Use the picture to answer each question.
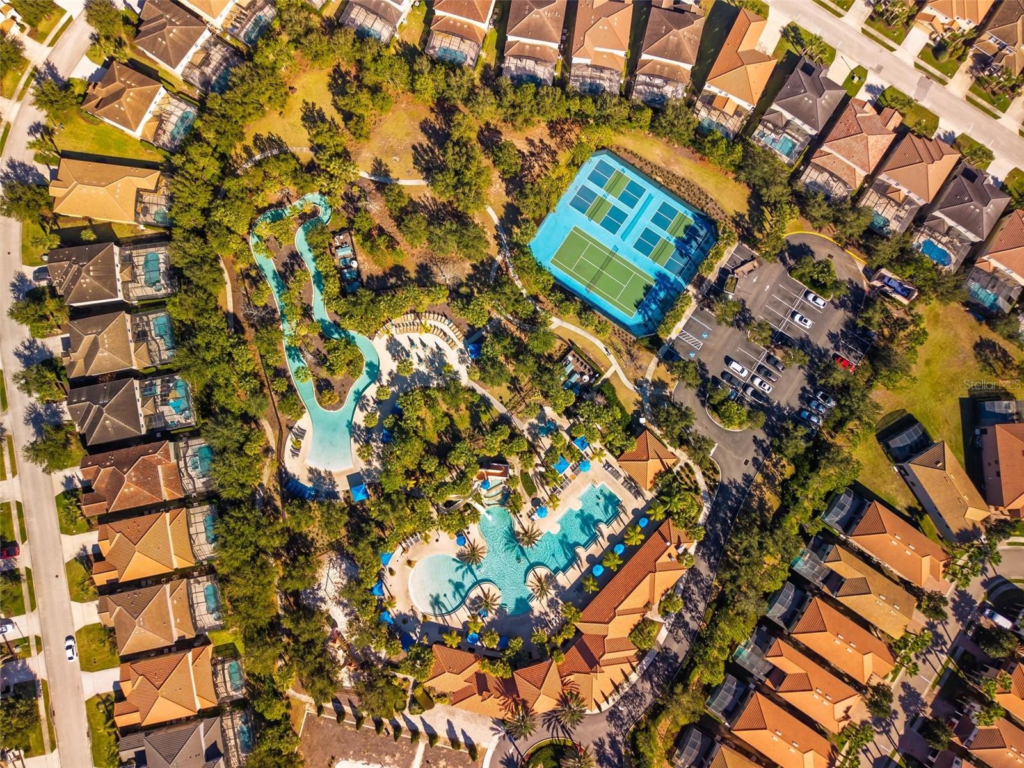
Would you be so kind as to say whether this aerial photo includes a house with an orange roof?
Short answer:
Yes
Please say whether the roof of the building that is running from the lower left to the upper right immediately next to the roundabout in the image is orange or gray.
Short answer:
orange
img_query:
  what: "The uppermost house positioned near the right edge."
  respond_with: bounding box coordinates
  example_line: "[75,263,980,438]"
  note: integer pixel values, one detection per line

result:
[911,0,988,47]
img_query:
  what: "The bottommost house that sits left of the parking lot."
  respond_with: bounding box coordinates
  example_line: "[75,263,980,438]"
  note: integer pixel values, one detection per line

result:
[118,715,234,768]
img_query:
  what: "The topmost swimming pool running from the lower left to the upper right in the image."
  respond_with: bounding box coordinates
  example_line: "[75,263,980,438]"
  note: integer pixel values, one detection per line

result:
[246,15,271,41]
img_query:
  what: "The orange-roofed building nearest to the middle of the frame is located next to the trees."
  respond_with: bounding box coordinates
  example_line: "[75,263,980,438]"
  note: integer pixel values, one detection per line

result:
[617,430,679,492]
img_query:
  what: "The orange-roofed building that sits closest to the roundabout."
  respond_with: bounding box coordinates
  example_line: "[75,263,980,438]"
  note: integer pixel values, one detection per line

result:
[422,517,700,722]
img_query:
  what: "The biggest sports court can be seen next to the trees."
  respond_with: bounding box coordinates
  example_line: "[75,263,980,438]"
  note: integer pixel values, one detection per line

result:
[530,154,716,335]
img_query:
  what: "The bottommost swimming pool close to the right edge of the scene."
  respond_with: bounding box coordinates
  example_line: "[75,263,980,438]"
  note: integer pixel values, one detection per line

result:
[969,283,999,307]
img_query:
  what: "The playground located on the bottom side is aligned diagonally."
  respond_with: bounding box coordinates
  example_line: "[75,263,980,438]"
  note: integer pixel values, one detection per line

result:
[321,629,363,673]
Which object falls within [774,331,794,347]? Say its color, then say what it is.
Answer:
black car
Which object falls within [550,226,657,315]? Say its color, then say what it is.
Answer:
green tennis court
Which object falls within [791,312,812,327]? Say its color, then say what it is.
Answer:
white car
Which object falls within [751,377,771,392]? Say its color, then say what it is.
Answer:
white car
